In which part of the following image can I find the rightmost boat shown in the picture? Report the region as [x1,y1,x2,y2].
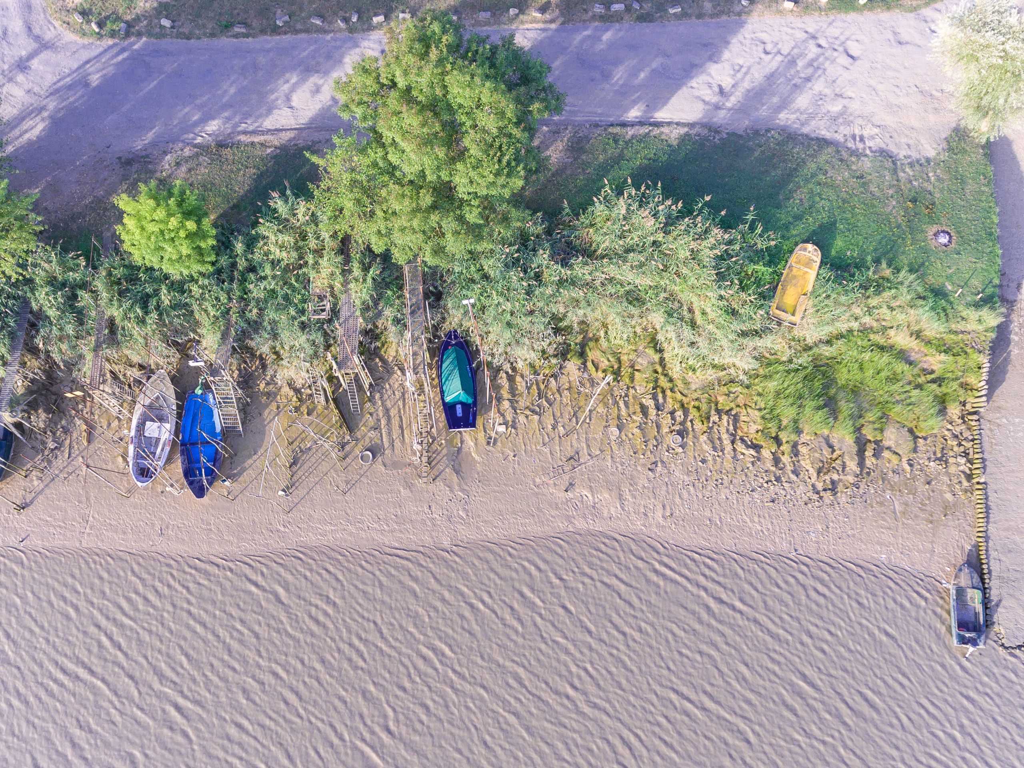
[947,564,988,664]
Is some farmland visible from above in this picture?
No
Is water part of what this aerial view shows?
Yes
